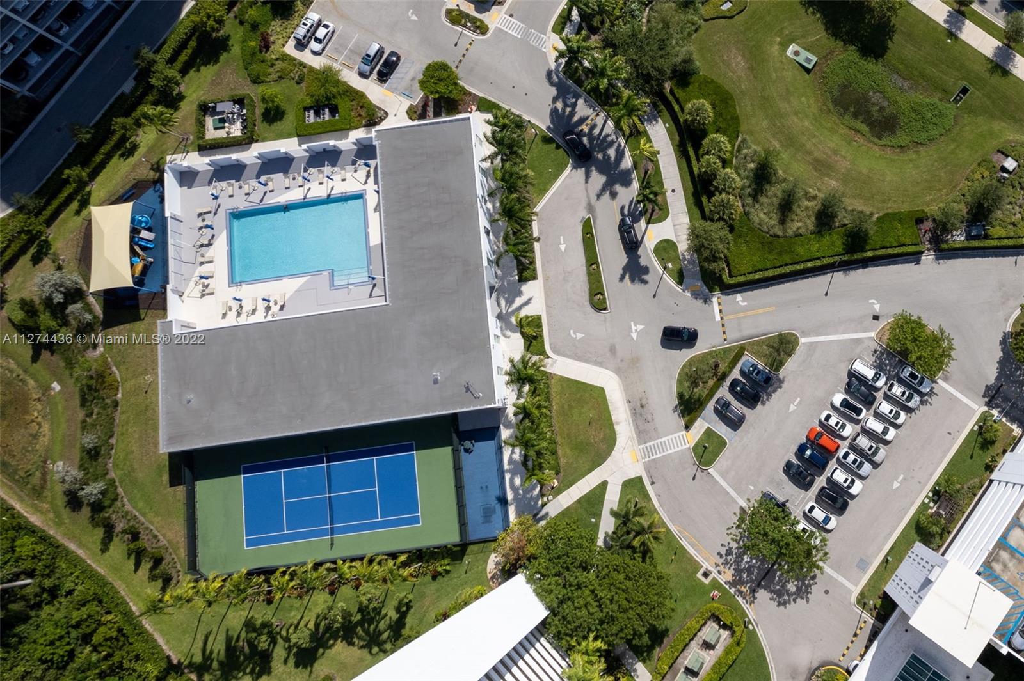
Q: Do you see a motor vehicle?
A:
Yes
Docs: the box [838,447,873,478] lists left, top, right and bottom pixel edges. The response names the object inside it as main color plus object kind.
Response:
white car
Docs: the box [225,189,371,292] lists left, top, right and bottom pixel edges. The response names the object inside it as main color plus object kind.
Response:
blue swimming pool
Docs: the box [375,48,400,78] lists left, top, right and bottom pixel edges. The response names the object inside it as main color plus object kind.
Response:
black car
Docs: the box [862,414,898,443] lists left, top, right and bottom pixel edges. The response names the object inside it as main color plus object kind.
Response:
white car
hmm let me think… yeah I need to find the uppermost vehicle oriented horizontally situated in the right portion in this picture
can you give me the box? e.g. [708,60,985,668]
[661,324,699,342]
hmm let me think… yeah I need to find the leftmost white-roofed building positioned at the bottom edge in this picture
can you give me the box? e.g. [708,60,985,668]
[356,575,576,681]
